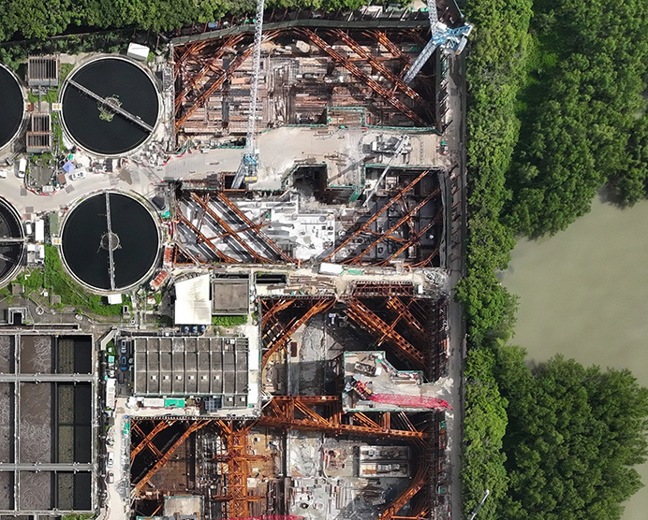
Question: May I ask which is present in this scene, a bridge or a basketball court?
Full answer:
This aerial view contains a bridge.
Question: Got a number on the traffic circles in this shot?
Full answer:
I count no traffic circles.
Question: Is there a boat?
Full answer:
No, this view has no boat in it.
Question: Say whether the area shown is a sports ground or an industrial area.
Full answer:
It's an industrial area.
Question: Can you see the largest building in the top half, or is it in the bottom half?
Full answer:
It is in the bottom half that the largest building appears.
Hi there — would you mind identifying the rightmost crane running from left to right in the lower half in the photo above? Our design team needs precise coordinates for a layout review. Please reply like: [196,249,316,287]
[345,370,455,410]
